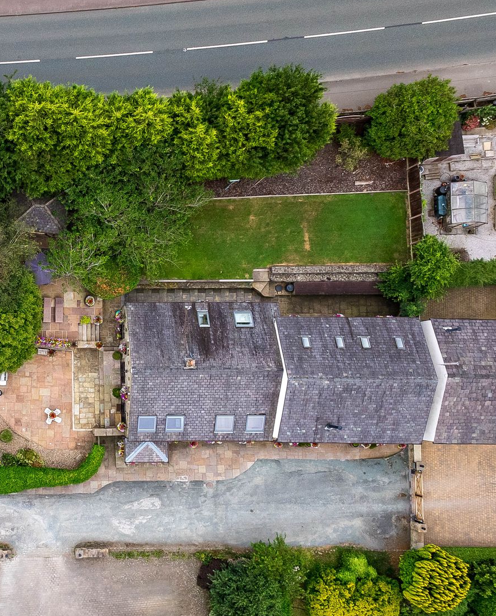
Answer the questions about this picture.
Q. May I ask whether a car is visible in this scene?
No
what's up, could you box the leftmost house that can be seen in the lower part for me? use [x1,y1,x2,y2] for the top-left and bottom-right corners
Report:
[115,300,286,465]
